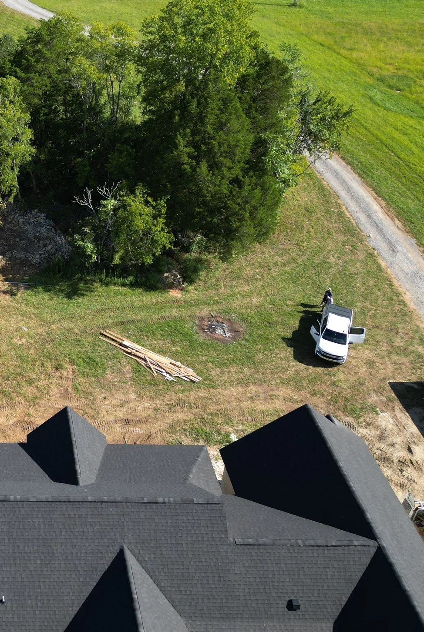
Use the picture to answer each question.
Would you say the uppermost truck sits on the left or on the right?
right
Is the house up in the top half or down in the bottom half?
bottom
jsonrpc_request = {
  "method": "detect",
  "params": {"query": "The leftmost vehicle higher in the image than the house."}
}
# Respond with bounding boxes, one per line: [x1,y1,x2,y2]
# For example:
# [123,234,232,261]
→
[303,303,369,368]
